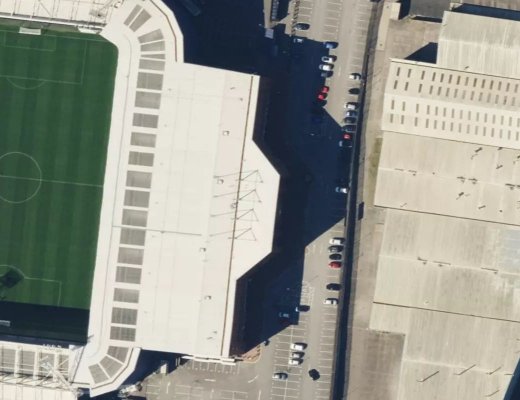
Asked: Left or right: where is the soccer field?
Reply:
left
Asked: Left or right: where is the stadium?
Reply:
left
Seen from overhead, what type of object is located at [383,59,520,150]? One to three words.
building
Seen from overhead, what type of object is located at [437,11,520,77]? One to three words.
building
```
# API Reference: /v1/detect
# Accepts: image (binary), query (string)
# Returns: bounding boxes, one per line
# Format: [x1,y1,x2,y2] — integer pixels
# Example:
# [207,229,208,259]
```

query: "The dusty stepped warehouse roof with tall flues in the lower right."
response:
[370,302,520,400]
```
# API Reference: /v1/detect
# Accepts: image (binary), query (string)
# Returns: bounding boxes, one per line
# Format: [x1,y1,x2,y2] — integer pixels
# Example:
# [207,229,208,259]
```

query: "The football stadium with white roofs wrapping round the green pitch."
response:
[0,0,289,400]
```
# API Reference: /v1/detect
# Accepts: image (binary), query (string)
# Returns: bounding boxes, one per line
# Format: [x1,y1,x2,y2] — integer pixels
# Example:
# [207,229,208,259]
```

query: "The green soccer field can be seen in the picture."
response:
[0,14,118,349]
